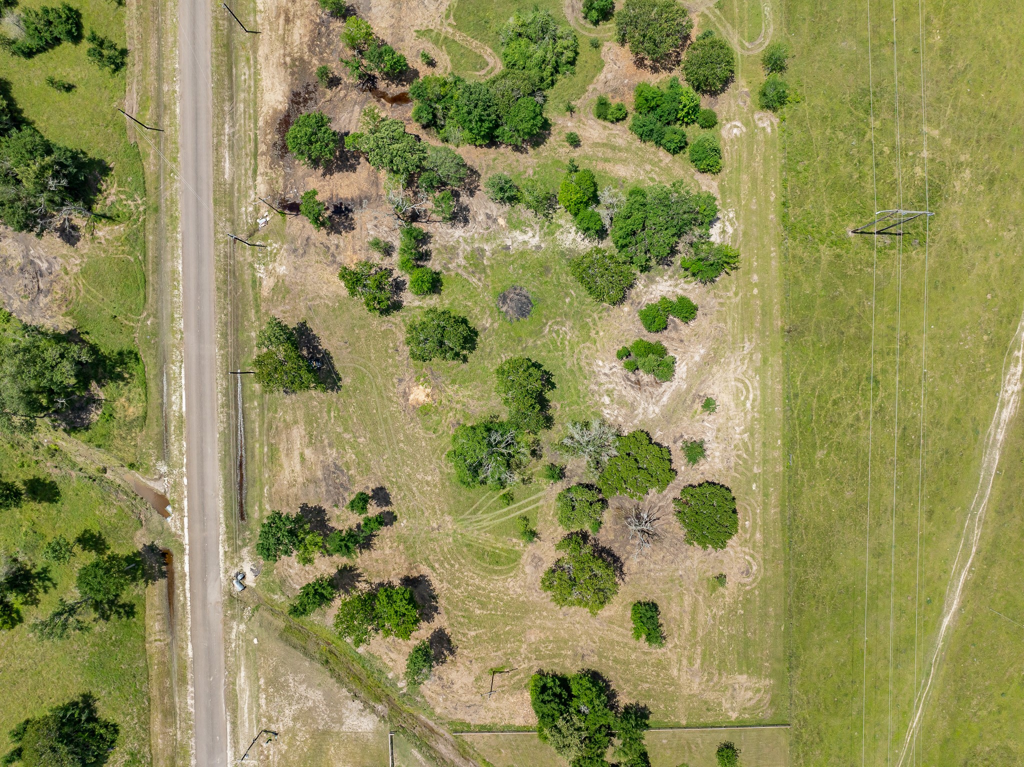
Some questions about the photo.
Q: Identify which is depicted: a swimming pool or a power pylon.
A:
power pylon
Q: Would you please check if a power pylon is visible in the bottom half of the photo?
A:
No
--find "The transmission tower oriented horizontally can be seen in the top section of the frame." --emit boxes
[850,209,934,234]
